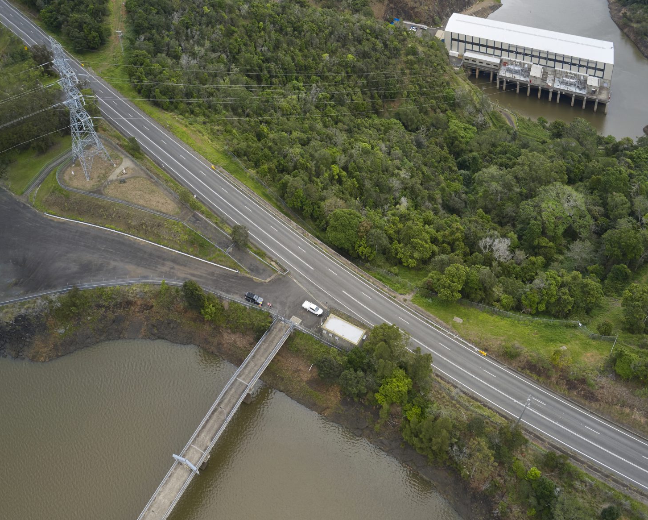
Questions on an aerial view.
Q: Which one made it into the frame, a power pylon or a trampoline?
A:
power pylon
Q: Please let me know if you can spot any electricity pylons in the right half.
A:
No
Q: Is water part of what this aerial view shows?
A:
Yes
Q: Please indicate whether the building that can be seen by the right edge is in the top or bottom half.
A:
top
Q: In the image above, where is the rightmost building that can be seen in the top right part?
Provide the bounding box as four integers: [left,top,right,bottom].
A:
[447,13,618,115]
